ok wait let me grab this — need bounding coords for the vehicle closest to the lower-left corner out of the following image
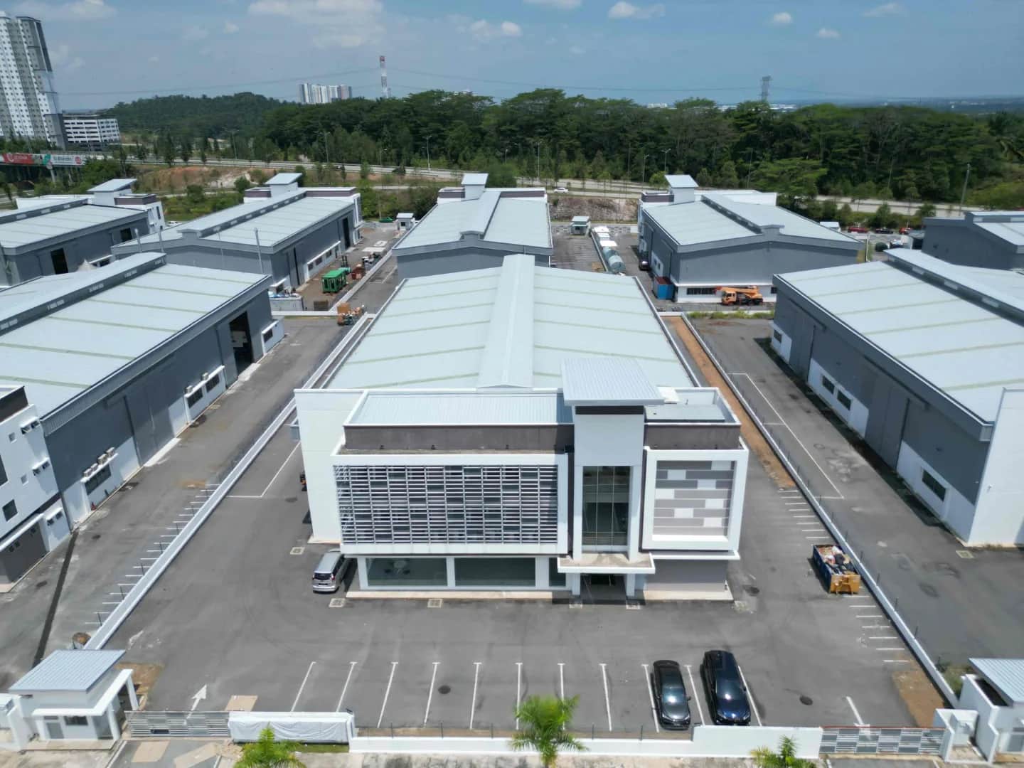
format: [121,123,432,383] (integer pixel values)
[312,545,352,588]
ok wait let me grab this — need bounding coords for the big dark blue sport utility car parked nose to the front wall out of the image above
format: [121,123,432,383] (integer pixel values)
[699,644,749,719]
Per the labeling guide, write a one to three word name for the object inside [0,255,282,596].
building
